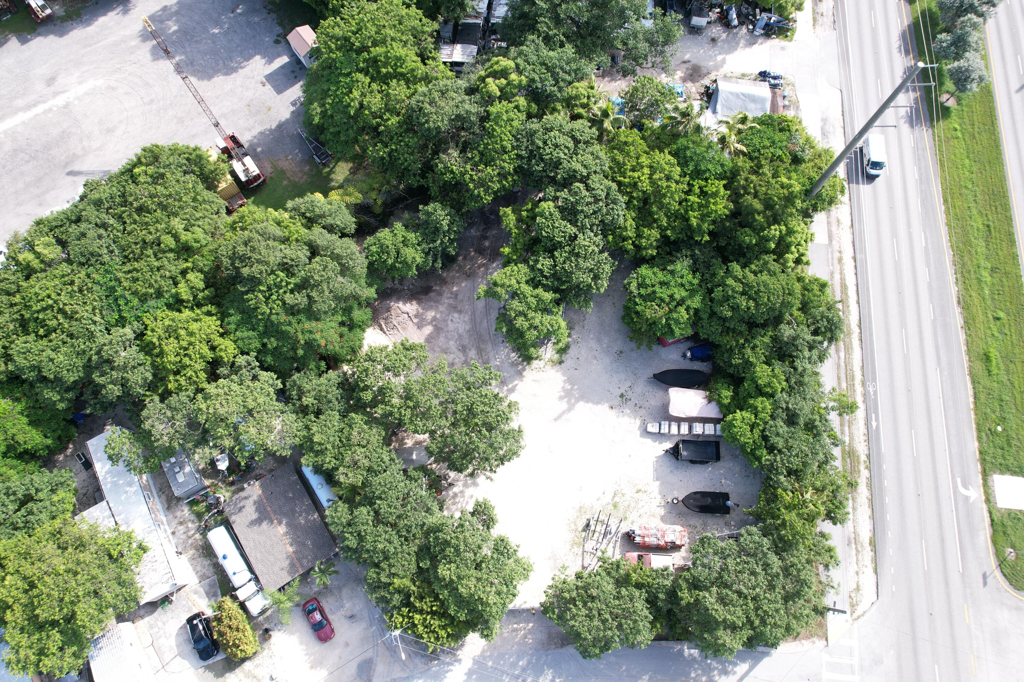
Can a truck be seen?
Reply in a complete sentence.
Yes, a truck appears in the view.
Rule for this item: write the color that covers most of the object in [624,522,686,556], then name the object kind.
white trailer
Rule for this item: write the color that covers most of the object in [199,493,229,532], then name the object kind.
gray work vehicle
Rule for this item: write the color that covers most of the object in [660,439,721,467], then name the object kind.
black trailer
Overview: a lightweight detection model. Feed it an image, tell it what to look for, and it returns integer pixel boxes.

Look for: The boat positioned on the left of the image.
[215,454,230,478]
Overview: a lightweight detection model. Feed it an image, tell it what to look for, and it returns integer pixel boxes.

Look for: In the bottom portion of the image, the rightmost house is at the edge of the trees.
[224,463,339,588]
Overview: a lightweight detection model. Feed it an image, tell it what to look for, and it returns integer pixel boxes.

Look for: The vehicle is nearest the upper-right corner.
[857,131,888,181]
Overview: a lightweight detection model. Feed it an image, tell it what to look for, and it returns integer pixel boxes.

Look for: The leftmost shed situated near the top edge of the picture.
[287,24,324,68]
